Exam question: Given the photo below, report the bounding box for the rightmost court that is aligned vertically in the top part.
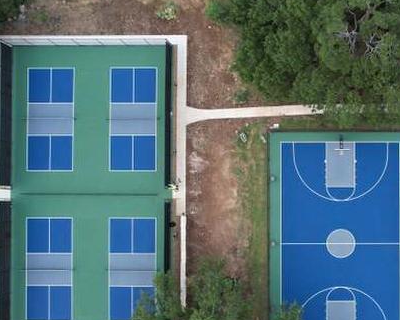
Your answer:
[110,68,157,171]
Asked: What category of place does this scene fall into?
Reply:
sports ground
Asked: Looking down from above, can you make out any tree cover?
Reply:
Yes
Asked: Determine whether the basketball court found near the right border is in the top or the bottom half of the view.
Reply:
bottom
